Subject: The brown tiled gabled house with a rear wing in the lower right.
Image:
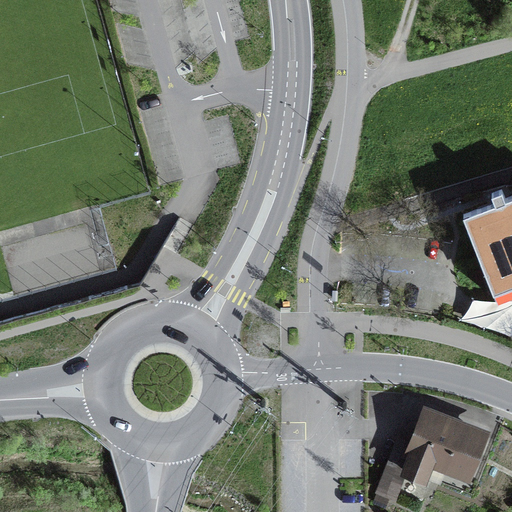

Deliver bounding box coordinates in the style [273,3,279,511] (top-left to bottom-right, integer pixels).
[402,406,490,487]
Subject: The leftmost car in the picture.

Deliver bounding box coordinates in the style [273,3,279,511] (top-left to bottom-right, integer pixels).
[64,359,90,374]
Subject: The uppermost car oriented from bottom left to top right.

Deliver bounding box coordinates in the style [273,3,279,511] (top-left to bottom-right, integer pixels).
[194,278,212,302]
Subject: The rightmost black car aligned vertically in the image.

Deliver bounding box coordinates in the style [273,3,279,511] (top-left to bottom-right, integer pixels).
[406,284,418,308]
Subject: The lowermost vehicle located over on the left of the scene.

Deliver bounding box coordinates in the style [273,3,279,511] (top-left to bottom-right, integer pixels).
[113,418,134,433]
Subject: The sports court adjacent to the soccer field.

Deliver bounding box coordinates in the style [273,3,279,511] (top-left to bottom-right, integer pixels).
[0,207,116,296]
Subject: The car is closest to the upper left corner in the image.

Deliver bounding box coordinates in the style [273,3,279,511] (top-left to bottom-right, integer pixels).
[138,97,160,109]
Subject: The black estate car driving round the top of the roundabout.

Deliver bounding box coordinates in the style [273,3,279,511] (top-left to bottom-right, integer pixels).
[164,326,188,344]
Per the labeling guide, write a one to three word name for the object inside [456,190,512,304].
building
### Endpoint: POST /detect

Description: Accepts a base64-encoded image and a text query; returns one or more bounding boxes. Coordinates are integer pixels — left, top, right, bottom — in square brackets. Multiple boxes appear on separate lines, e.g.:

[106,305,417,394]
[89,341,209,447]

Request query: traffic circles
[82,302,244,464]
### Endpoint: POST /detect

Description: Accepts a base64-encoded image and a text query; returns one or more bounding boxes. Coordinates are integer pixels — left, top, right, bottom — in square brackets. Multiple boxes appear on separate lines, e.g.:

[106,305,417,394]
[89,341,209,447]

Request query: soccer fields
[0,0,150,231]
